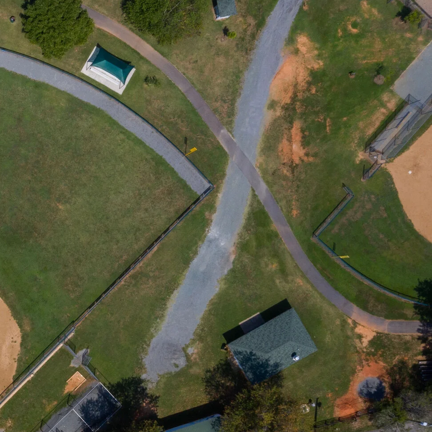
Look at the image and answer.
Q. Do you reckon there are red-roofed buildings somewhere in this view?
No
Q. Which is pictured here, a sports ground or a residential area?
sports ground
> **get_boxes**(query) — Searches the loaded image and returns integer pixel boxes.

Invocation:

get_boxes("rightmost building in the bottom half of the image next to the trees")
[221,308,318,385]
